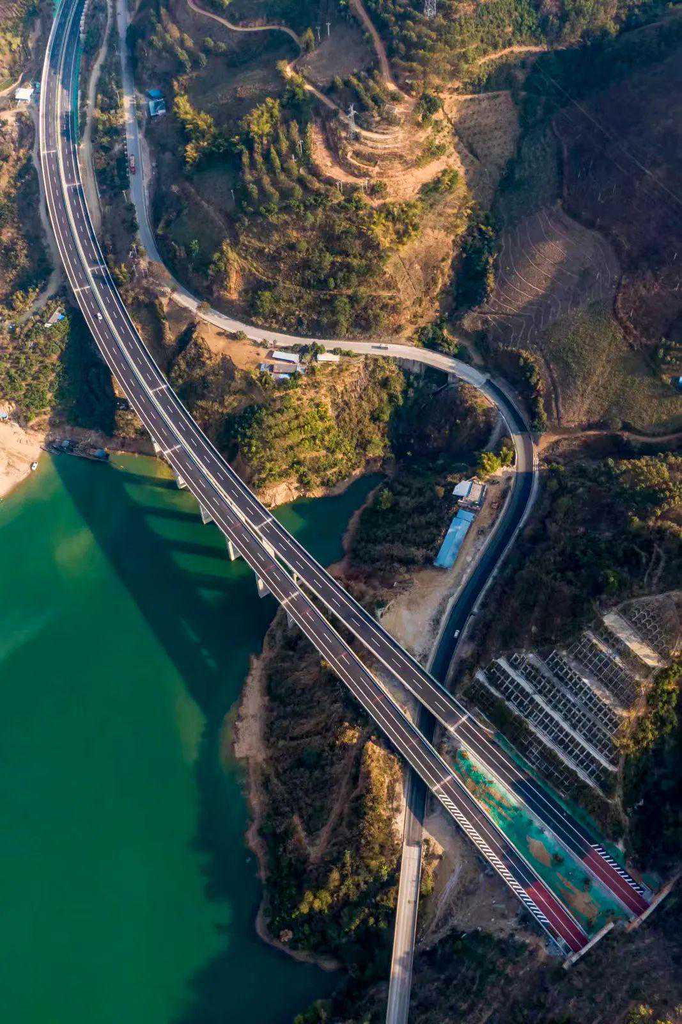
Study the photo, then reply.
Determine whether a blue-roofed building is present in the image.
Yes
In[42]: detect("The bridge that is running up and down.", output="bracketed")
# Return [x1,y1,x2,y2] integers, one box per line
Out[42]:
[386,845,422,1024]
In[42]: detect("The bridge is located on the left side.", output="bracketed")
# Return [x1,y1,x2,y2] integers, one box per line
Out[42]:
[41,151,447,783]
